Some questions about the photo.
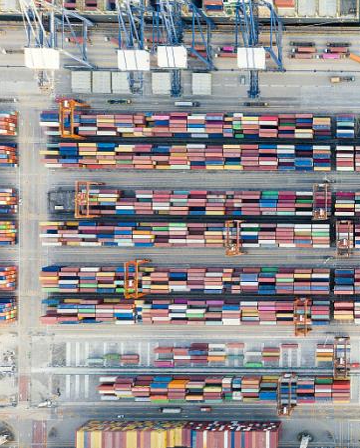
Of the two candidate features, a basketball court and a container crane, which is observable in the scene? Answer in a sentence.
Of the two, only a container crane appears.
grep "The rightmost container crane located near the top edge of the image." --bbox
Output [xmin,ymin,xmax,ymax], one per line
[236,0,287,96]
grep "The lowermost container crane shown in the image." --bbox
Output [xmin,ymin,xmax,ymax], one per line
[278,368,301,417]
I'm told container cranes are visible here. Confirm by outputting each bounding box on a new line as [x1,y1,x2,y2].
[57,100,90,141]
[115,0,169,96]
[224,221,249,256]
[333,332,353,381]
[18,0,100,95]
[236,0,287,96]
[278,368,301,417]
[335,222,356,258]
[154,0,217,96]
[294,295,316,336]
[124,258,153,299]
[311,184,333,220]
[73,182,105,218]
